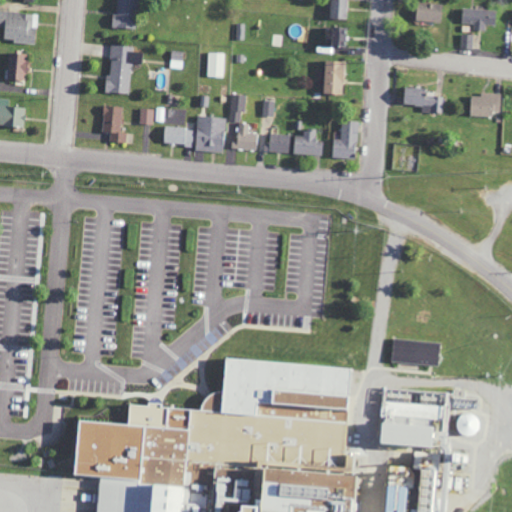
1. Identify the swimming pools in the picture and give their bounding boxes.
[288,23,307,40]
[156,72,166,90]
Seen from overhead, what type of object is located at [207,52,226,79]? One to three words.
shed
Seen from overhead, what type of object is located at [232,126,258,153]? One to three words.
house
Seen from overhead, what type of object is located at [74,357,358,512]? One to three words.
building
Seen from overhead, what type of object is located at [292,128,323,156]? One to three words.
house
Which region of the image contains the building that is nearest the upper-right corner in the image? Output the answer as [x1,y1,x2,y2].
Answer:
[462,6,496,34]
